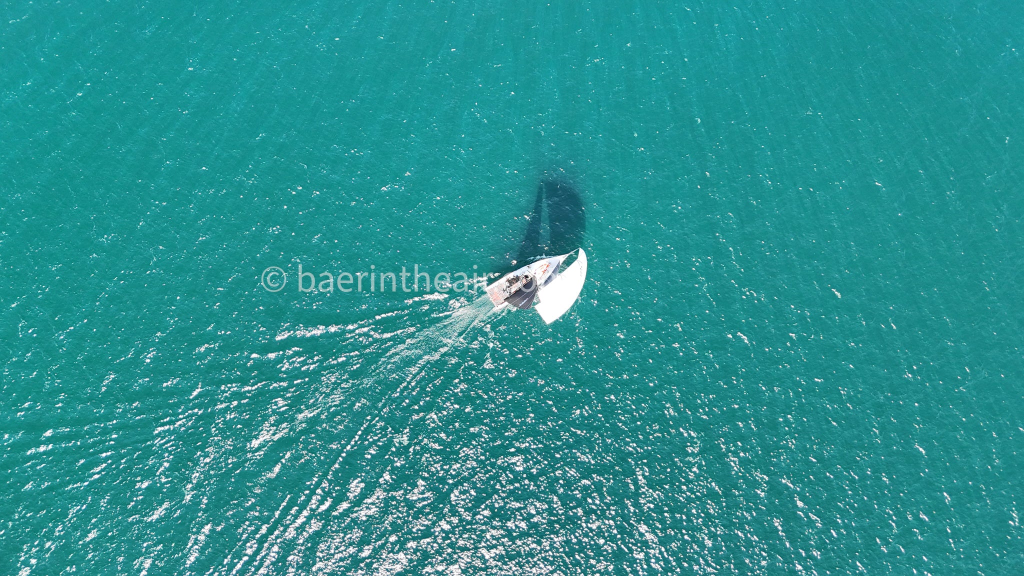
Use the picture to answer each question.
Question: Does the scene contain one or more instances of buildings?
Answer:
No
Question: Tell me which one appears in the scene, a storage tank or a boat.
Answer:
boat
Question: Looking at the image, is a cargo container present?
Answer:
No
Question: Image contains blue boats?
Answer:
No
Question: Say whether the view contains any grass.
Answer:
No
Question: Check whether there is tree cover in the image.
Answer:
No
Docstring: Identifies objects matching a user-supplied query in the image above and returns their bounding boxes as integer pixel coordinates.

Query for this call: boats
[485,248,586,324]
